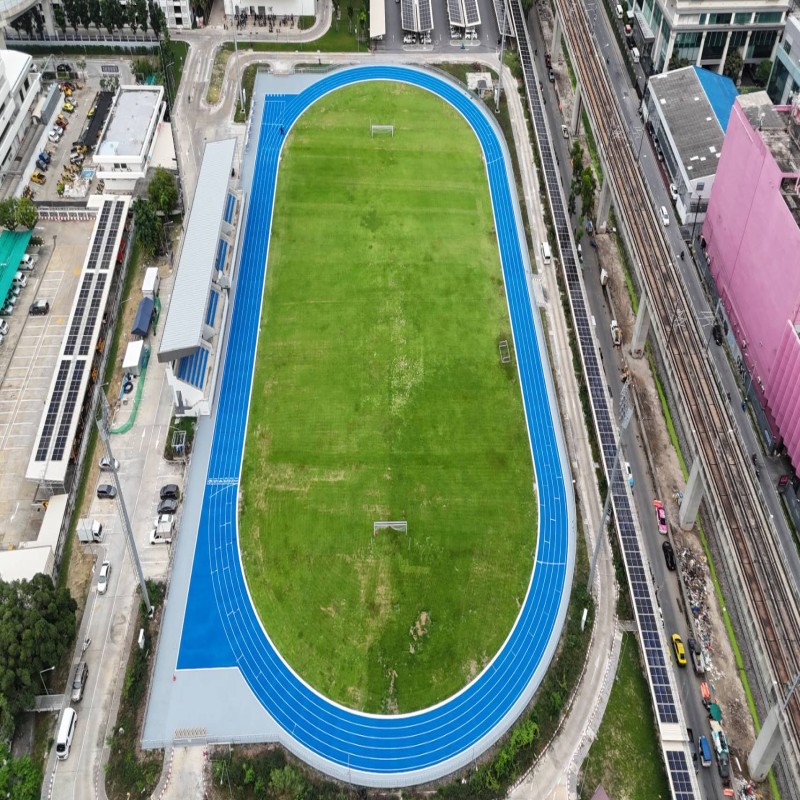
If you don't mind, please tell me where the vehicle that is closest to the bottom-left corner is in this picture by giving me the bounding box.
[53,701,78,759]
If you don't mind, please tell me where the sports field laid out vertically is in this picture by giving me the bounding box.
[239,80,538,713]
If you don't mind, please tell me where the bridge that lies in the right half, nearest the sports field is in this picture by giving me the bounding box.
[552,0,800,800]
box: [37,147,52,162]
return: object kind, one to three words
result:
car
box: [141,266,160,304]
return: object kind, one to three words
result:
building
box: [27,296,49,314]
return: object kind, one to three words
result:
car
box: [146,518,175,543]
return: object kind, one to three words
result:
truck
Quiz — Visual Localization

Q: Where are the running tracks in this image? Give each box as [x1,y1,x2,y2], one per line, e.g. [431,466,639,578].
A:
[142,61,579,791]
